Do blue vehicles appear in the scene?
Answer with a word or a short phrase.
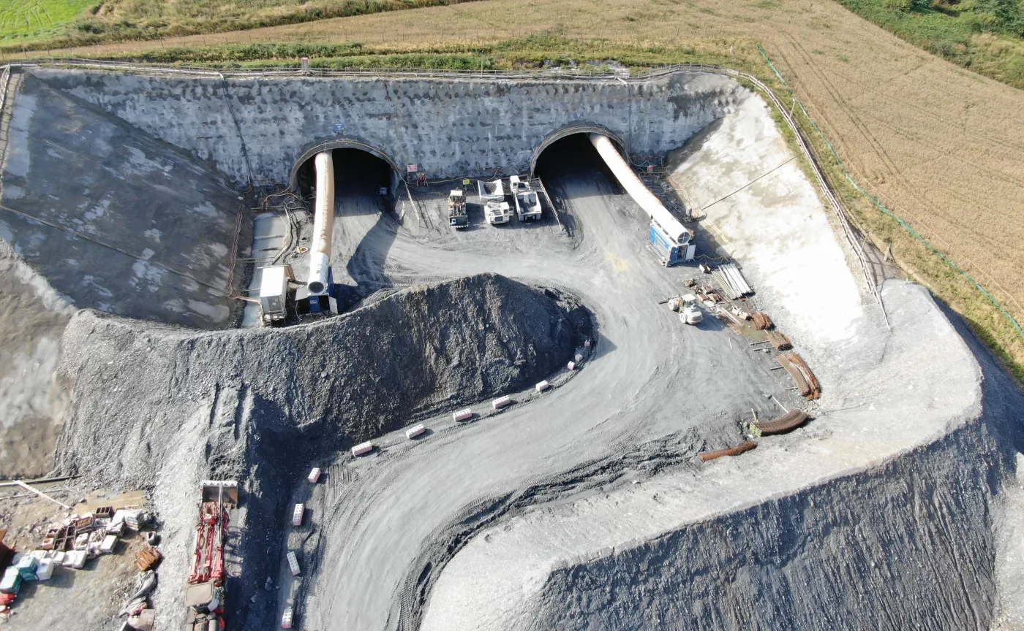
No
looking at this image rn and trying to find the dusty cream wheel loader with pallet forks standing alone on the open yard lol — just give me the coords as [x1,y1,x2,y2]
[653,291,706,323]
